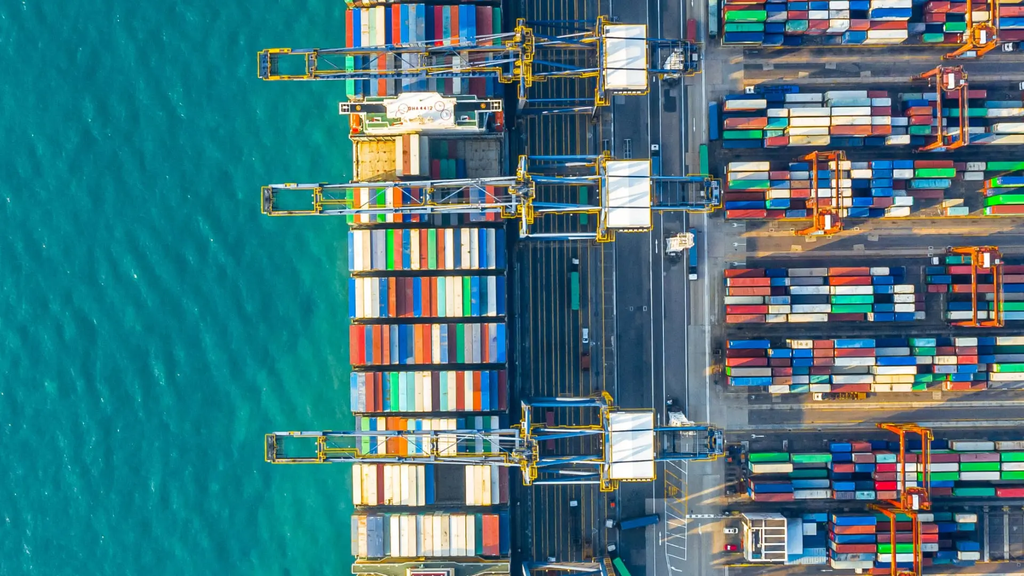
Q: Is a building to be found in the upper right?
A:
No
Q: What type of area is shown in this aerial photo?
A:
port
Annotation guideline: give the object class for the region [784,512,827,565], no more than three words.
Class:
shed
